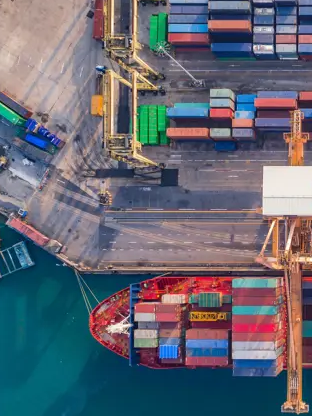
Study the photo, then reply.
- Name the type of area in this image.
port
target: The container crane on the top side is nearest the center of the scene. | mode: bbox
[104,73,166,168]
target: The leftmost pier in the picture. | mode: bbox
[0,241,38,282]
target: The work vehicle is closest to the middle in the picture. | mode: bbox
[98,189,114,209]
